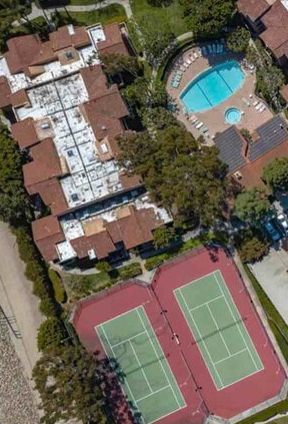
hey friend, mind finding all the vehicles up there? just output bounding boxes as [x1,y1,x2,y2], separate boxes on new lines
[263,220,282,242]
[275,214,288,234]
